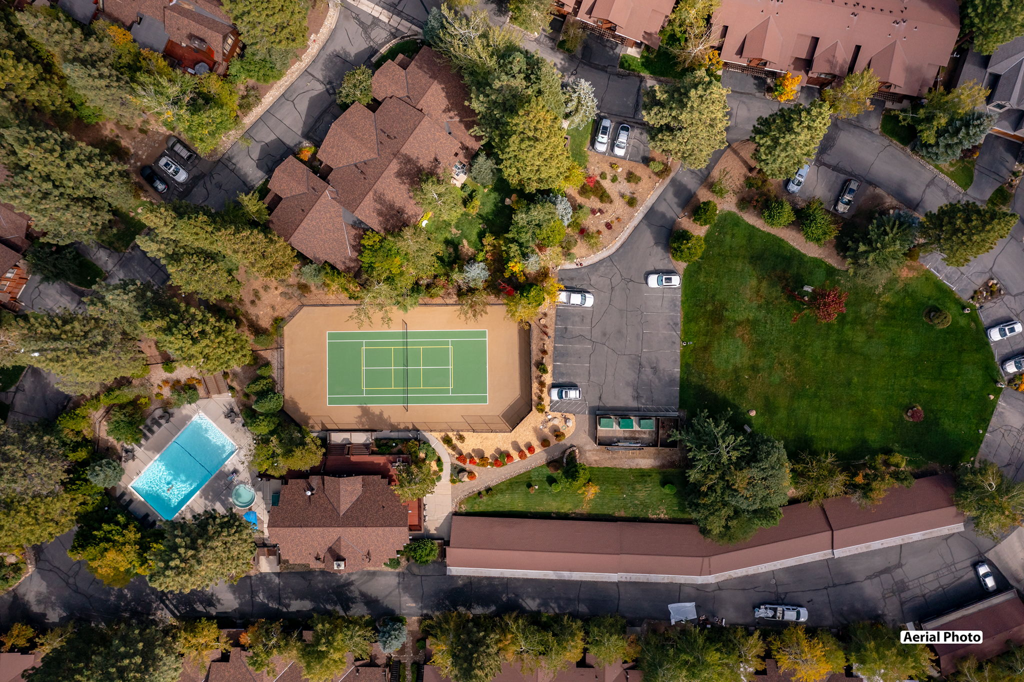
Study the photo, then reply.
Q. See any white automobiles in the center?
Yes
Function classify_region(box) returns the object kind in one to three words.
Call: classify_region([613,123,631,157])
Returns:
car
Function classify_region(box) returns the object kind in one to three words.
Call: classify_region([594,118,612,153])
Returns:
car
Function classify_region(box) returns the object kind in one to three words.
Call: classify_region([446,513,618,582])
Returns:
building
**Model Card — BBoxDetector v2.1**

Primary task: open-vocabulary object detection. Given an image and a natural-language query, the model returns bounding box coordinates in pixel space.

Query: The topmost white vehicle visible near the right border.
[986,320,1023,341]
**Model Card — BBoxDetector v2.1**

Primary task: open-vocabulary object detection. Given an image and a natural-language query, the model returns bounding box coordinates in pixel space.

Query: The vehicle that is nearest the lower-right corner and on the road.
[973,561,997,593]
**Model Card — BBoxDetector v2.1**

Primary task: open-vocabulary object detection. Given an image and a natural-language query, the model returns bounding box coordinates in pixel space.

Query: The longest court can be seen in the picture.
[284,306,532,431]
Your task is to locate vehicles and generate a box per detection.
[613,123,631,157]
[1000,354,1024,373]
[973,561,997,593]
[165,135,198,165]
[157,156,190,184]
[986,320,1023,341]
[835,179,861,214]
[550,386,581,402]
[764,603,808,623]
[556,291,594,308]
[647,272,681,289]
[594,118,612,153]
[786,166,811,195]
